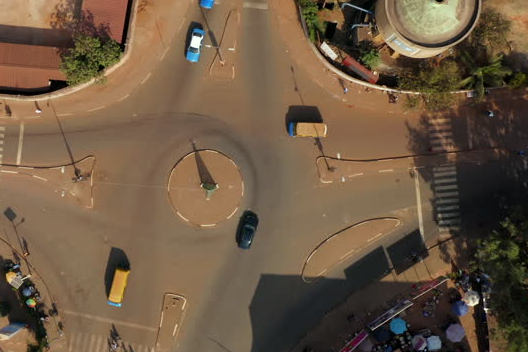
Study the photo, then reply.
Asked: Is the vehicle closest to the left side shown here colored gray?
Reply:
No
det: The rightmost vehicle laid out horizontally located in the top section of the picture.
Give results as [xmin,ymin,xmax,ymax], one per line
[286,120,326,139]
